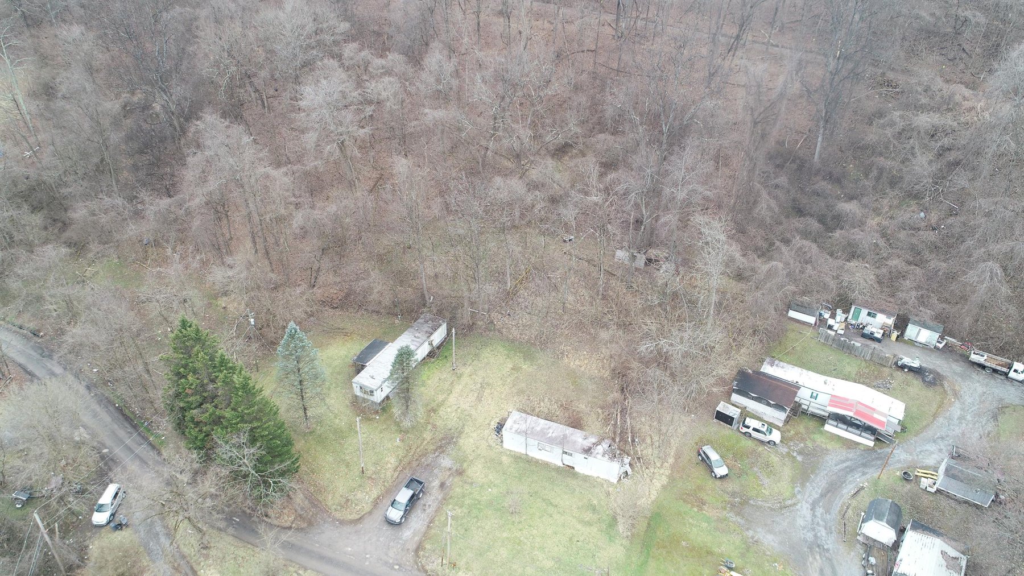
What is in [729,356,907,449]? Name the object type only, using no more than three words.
house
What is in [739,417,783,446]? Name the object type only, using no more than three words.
car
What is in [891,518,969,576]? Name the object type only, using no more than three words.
building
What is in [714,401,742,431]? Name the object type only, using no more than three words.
shed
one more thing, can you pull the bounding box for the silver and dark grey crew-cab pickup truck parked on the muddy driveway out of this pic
[384,476,427,526]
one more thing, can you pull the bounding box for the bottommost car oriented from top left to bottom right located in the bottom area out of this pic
[696,444,730,479]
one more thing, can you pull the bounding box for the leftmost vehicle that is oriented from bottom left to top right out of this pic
[90,483,128,526]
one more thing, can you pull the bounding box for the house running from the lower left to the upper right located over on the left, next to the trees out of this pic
[350,313,448,409]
